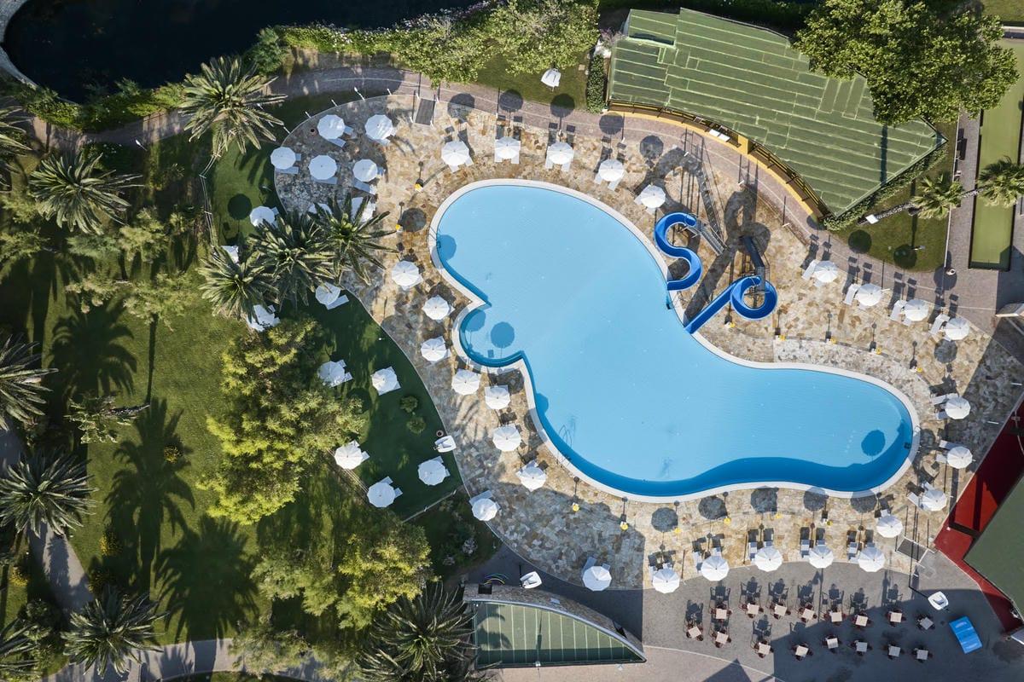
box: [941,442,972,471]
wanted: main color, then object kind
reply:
white umbrella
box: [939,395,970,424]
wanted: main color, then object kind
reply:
white umbrella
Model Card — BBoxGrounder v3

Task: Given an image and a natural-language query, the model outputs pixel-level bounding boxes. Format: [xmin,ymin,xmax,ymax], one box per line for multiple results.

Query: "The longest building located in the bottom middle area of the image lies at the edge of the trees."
[472,582,648,672]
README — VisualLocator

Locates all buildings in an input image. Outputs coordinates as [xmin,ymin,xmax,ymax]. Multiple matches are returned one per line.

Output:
[472,582,648,672]
[985,291,1024,319]
[941,472,1024,618]
[603,5,951,222]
